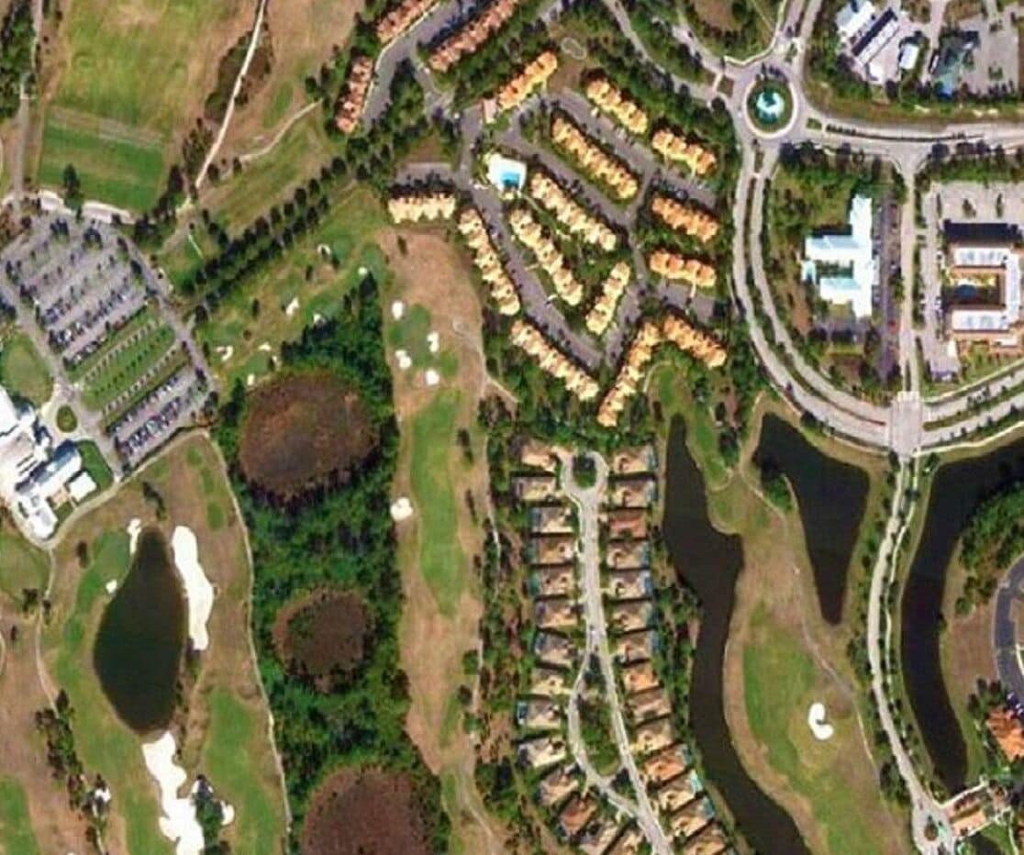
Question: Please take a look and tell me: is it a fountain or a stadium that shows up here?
fountain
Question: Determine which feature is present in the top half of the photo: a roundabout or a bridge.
roundabout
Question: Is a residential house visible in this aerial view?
Yes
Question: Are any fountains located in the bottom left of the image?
No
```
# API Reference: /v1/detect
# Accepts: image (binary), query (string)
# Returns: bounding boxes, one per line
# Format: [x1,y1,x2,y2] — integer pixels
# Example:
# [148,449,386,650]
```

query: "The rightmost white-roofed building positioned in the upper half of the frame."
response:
[949,243,1024,348]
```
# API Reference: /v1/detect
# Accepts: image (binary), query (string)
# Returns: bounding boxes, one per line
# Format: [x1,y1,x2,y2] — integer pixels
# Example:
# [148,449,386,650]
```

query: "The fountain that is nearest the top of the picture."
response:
[757,91,785,120]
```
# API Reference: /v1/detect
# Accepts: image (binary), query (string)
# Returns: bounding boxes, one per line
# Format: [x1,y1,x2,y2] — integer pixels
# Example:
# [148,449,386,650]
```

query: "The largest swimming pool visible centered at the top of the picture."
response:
[489,153,527,191]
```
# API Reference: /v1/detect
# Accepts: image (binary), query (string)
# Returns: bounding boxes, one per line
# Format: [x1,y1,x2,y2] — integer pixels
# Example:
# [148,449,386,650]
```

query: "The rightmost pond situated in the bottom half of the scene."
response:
[754,411,869,626]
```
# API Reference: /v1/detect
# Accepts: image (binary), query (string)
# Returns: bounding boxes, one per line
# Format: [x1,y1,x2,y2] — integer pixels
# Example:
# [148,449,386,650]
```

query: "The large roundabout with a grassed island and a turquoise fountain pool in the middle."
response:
[718,43,821,147]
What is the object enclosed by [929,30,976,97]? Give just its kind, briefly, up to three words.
building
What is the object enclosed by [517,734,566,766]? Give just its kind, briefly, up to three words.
house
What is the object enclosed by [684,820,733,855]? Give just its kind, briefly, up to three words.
house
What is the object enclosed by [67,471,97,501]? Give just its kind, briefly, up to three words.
building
